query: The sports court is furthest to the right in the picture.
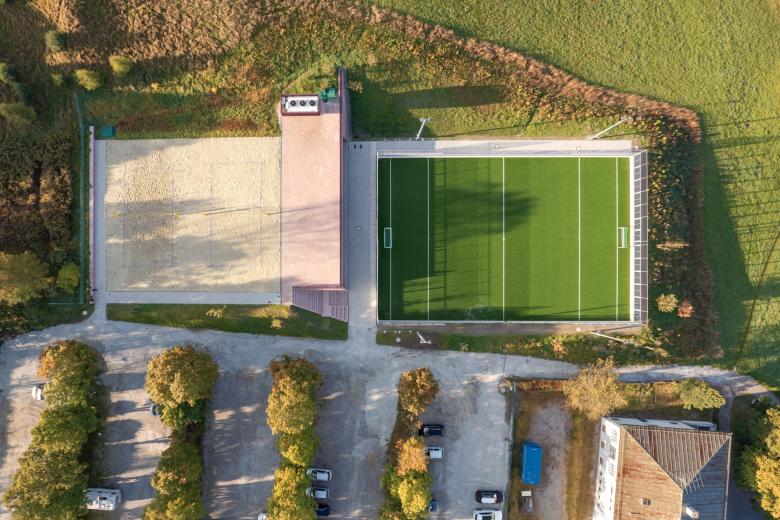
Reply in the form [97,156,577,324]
[192,138,281,294]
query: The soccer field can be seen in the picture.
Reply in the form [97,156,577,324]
[377,155,636,323]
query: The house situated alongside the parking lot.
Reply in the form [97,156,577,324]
[595,416,734,520]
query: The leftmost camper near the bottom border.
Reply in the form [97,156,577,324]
[84,489,129,511]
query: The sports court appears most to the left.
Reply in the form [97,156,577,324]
[107,138,192,294]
